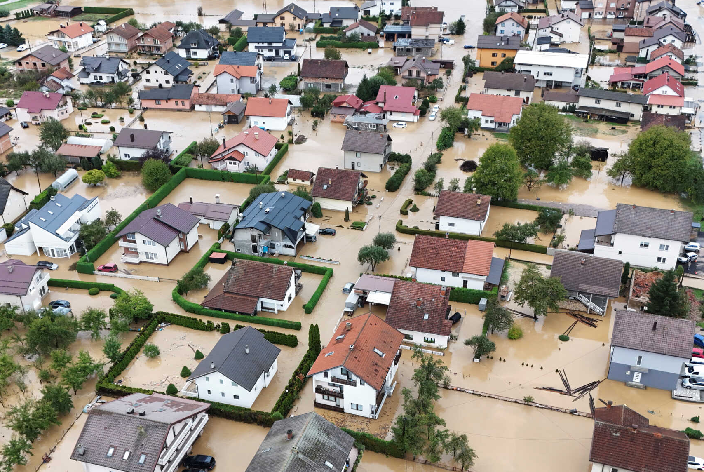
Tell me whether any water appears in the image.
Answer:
Yes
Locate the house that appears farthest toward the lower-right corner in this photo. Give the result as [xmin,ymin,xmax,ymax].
[588,400,691,472]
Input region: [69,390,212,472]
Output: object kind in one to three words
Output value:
house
